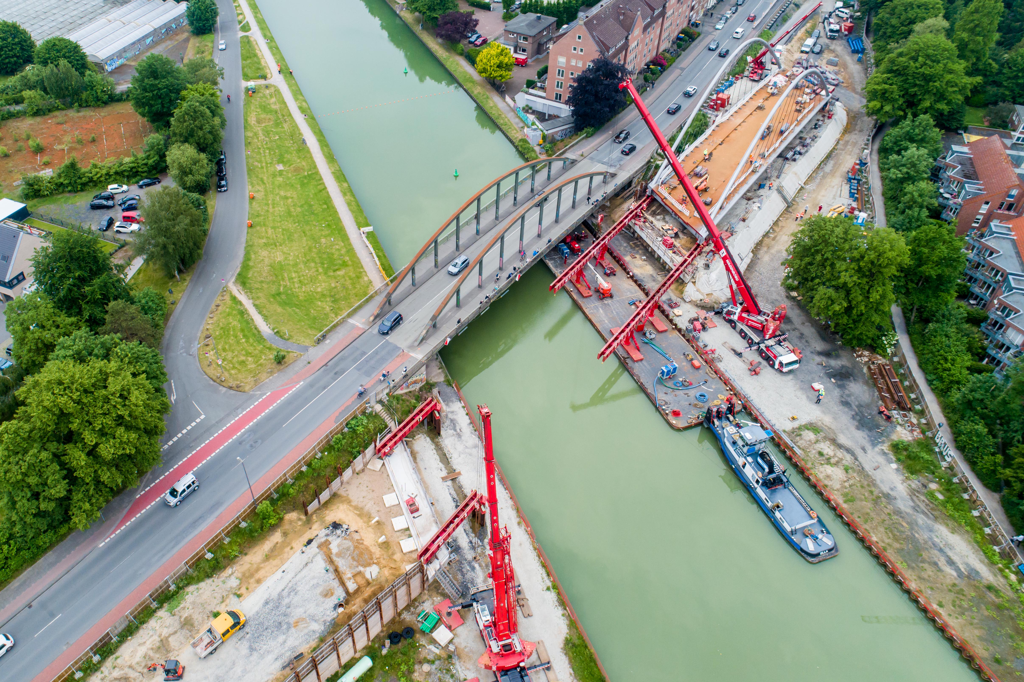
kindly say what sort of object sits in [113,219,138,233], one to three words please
car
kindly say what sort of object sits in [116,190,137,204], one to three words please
car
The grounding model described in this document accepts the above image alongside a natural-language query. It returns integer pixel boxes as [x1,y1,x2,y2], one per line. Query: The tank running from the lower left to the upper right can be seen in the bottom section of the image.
[334,653,373,682]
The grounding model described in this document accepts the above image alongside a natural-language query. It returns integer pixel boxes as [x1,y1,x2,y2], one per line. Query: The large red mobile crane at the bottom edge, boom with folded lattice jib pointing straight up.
[458,399,539,682]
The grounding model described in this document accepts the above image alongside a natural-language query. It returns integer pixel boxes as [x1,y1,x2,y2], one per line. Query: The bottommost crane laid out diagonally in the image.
[598,76,803,374]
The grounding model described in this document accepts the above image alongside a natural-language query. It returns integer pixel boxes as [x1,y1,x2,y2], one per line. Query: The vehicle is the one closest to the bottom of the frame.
[150,658,192,682]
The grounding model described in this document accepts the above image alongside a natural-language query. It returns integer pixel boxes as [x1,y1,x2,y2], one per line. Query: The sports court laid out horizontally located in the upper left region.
[0,103,152,180]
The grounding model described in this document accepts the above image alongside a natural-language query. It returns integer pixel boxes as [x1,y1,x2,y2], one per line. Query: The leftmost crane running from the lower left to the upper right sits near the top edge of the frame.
[745,0,824,78]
